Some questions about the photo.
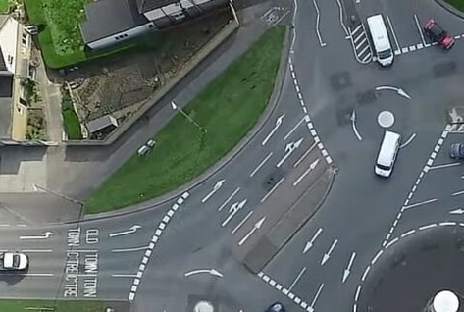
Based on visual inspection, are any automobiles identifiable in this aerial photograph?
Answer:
Yes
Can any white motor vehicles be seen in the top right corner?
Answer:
Yes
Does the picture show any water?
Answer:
No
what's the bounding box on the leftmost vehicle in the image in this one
[0,252,33,270]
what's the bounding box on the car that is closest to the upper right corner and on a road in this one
[425,19,455,50]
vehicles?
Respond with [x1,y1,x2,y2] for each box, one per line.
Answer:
[368,11,395,71]
[374,132,400,180]
[425,19,455,50]
[0,252,33,270]
[450,141,464,159]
